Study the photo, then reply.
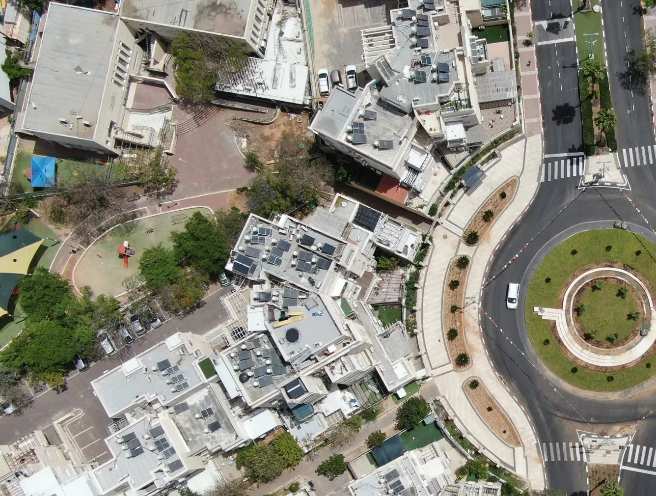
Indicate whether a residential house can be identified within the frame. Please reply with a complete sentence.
Yes, a residential house can be made out from above.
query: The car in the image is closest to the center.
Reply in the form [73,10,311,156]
[216,267,232,291]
